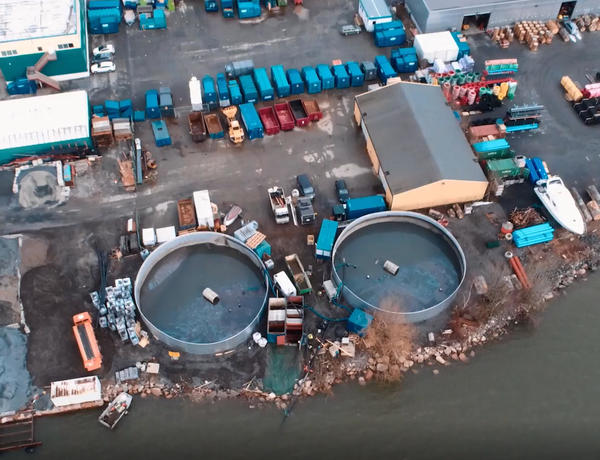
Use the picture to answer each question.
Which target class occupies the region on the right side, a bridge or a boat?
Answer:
boat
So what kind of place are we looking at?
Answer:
industrial area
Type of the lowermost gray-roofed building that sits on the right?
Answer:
warehouse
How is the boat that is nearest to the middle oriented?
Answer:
on a diagonal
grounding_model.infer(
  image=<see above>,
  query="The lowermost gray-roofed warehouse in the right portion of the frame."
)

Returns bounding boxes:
[358,78,497,209]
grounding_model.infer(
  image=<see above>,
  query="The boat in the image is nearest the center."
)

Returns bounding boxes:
[223,202,244,225]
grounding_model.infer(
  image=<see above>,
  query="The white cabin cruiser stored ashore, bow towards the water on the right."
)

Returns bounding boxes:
[532,177,589,237]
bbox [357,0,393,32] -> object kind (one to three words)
building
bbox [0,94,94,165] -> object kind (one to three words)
building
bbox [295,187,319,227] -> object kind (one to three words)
truck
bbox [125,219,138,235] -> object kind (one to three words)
vehicle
